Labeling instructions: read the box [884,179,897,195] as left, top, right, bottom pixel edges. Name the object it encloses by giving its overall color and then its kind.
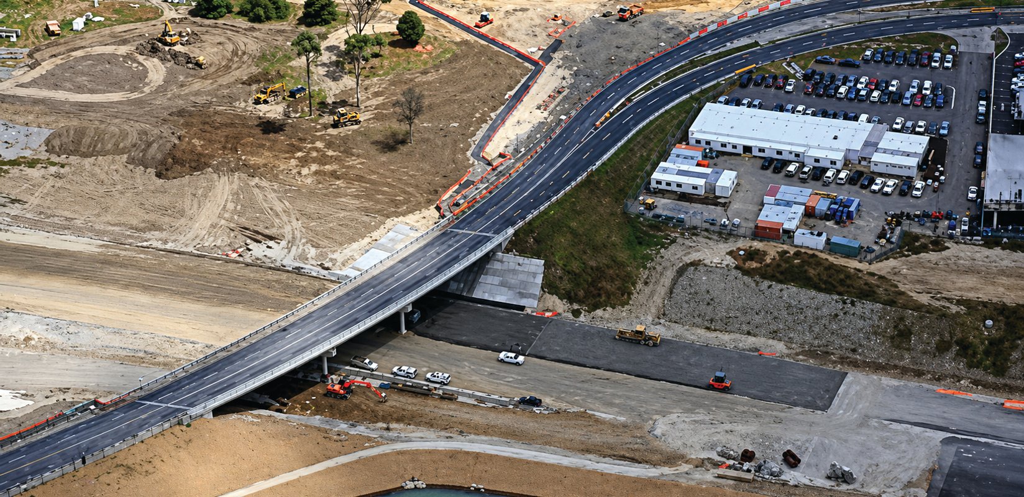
white vehicle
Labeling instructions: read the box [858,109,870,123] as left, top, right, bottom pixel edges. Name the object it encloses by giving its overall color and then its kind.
white vehicle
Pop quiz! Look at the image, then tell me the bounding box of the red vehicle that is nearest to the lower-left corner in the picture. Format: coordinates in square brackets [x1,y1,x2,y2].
[325,378,377,406]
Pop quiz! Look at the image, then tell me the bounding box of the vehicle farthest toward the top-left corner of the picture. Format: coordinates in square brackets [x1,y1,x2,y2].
[45,19,59,37]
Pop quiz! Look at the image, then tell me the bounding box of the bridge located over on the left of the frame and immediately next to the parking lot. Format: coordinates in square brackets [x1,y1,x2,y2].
[130,221,527,422]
